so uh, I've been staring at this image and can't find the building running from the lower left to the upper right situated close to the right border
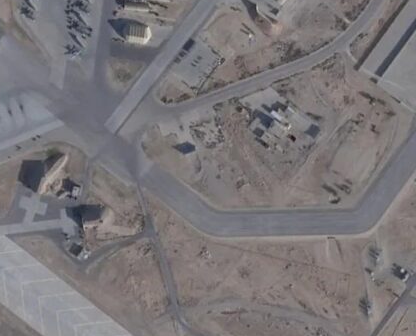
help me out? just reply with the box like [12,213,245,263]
[363,0,416,77]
